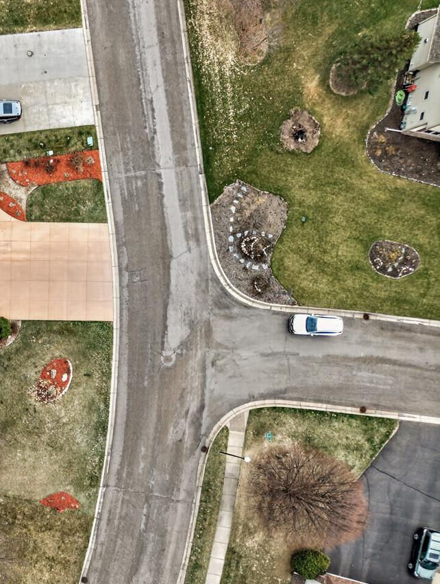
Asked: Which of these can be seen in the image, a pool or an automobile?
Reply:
automobile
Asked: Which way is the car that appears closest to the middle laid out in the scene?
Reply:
horizontally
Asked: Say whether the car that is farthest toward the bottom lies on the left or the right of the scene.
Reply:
right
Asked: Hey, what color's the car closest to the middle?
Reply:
white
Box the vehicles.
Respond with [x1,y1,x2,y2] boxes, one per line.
[409,523,440,581]
[283,311,344,338]
[0,99,23,123]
